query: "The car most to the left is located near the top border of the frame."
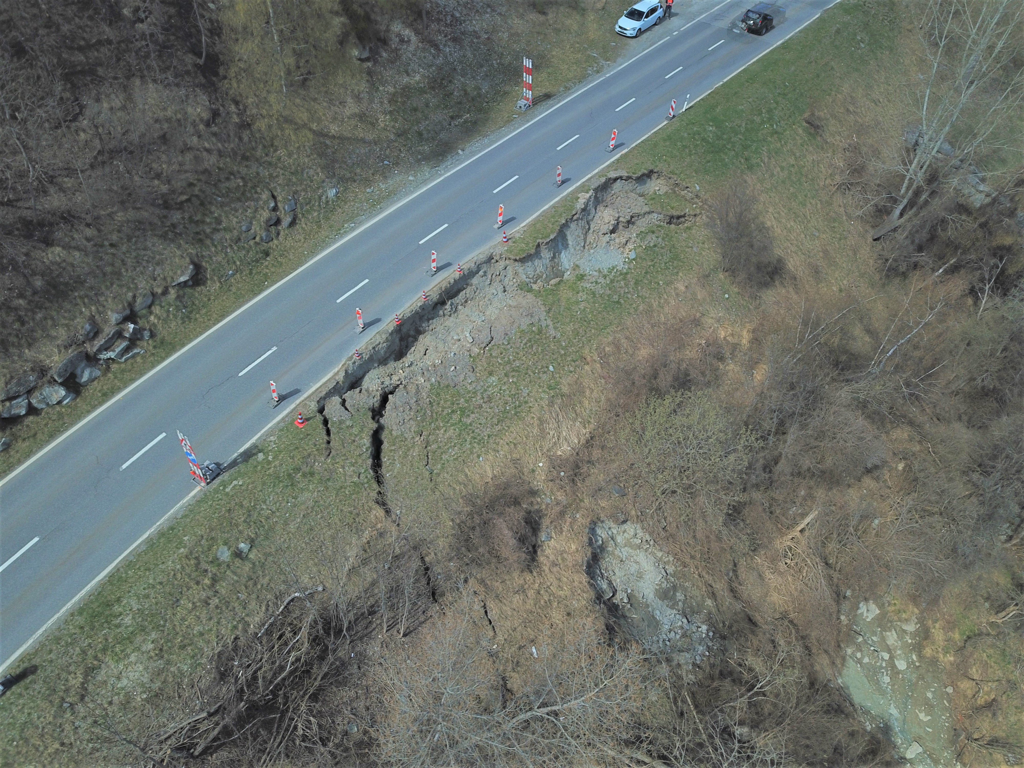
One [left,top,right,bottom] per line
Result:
[614,0,665,38]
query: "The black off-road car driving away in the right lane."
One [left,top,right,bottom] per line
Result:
[740,0,785,34]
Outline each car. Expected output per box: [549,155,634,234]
[614,0,665,38]
[740,0,785,34]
